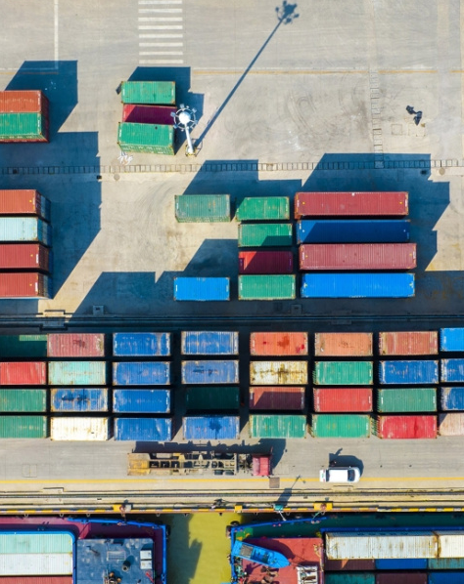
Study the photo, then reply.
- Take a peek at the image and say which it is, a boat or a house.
boat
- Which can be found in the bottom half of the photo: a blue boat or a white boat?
blue boat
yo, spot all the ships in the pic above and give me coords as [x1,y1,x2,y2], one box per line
[221,511,464,584]
[0,516,173,584]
